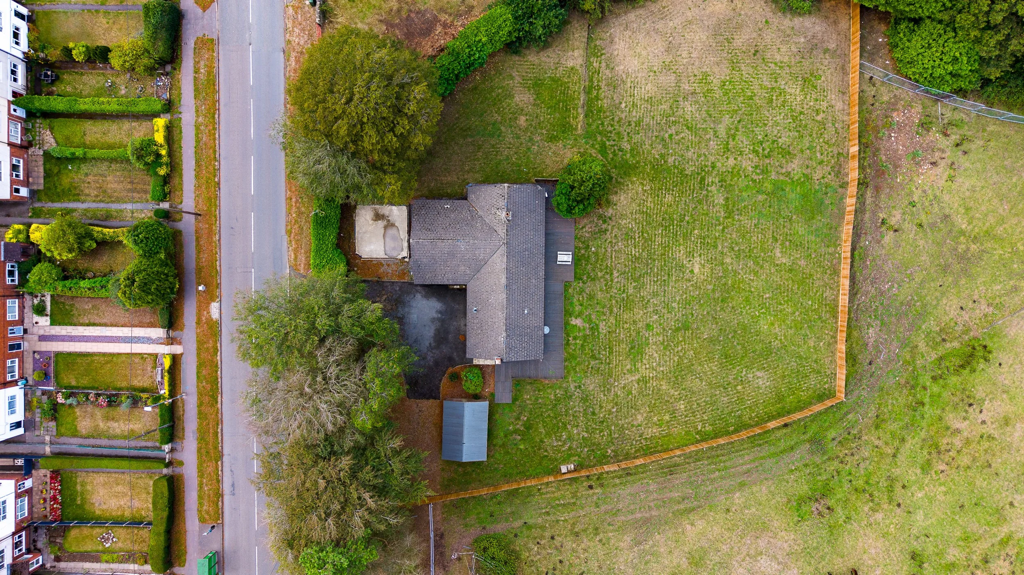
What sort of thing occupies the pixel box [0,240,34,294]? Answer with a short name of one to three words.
house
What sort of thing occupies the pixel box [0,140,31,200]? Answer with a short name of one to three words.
house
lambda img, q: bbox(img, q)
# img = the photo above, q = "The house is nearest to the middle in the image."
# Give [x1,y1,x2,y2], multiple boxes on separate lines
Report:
[408,183,548,364]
